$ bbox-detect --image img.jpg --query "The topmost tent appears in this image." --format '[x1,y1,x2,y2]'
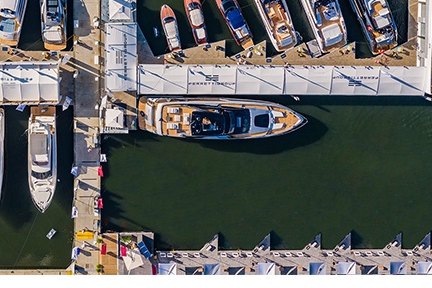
[111,0,133,20]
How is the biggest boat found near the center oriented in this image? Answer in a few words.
from side to side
